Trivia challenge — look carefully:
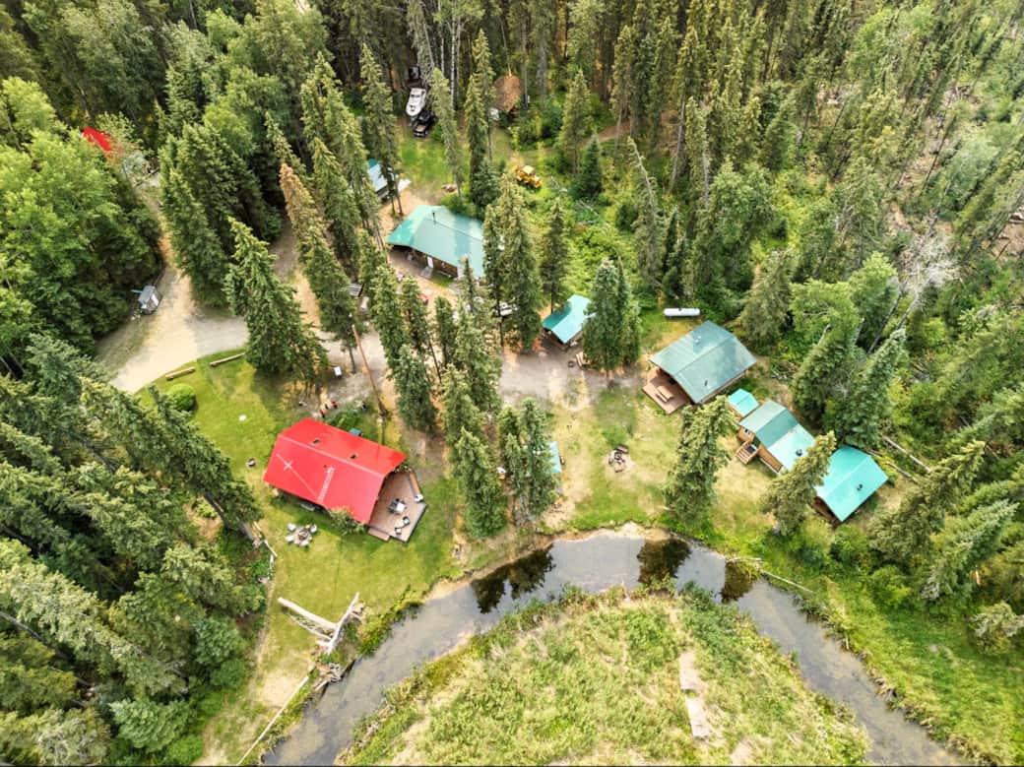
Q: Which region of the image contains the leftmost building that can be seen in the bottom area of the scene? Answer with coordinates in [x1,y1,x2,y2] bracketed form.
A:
[265,418,428,543]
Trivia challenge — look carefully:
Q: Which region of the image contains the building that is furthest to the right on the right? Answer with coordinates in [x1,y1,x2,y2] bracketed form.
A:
[812,447,888,532]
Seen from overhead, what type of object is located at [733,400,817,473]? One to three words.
building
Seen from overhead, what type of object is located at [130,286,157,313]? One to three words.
shed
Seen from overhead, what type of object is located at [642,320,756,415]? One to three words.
building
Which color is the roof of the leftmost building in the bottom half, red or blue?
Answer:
red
